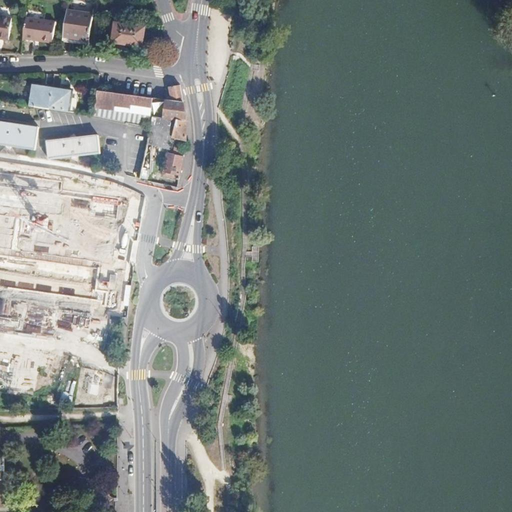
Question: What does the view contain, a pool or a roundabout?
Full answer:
The image shows a roundabout.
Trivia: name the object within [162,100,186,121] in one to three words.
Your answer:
house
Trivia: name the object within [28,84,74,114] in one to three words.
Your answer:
building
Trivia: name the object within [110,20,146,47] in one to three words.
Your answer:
house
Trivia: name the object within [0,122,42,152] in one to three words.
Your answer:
building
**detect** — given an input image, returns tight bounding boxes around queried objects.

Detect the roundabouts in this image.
[132,252,218,352]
